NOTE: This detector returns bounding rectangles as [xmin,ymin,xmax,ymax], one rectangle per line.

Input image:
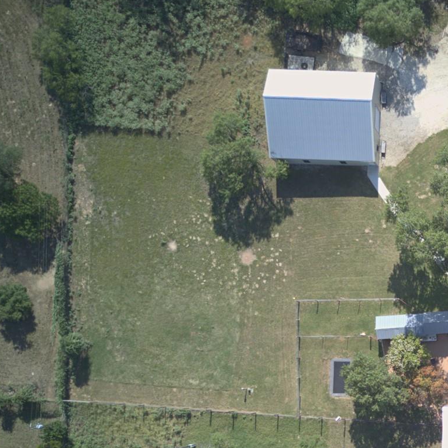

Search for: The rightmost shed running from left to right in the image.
[375,311,448,339]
